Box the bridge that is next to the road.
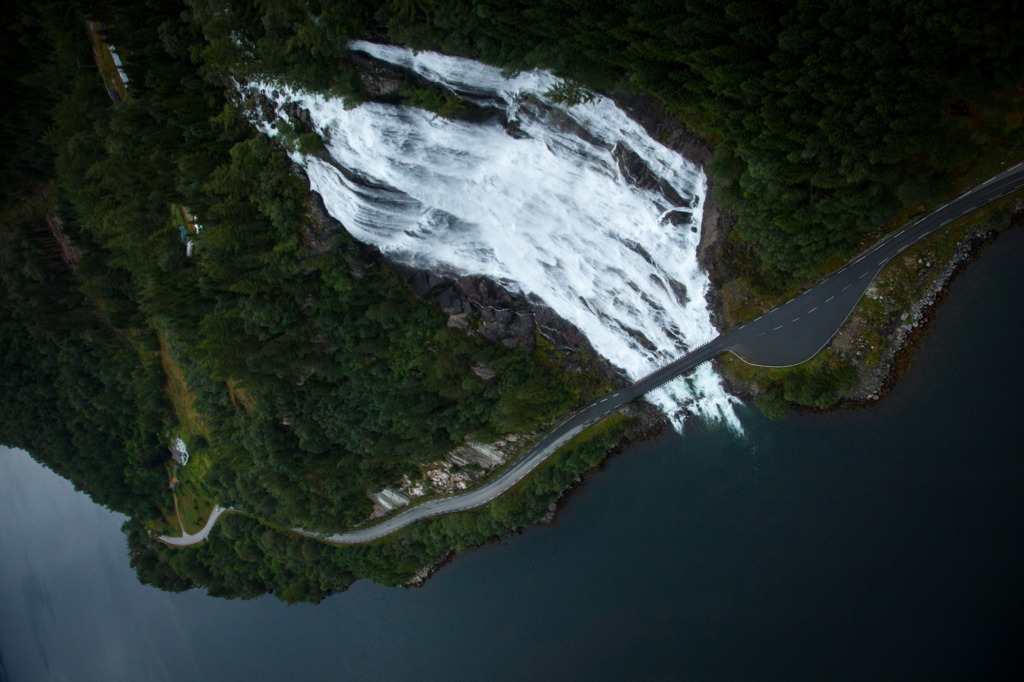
[629,335,723,399]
